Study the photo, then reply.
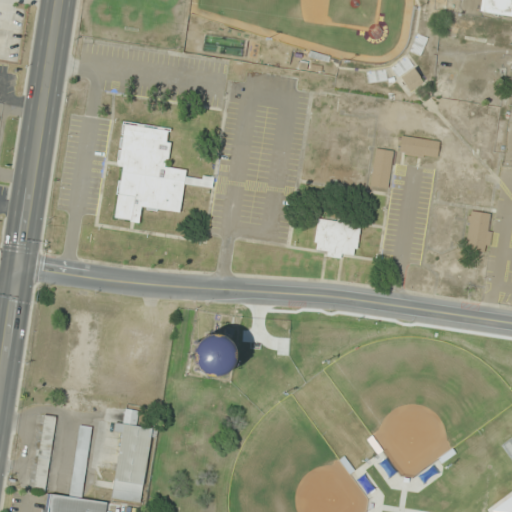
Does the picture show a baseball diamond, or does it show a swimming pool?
baseball diamond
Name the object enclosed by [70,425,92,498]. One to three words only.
shed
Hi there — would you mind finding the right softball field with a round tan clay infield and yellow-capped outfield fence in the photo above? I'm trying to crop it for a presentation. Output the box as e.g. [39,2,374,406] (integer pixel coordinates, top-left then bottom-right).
[324,337,512,478]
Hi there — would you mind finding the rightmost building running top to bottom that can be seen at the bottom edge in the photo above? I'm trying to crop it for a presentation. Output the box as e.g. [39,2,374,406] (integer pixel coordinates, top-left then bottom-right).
[112,410,152,504]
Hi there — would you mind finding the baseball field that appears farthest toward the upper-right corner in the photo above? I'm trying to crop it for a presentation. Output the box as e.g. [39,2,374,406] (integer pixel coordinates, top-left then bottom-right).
[190,0,415,62]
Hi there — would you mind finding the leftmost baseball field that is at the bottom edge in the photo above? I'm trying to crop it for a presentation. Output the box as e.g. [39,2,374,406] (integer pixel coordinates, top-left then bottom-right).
[229,394,368,512]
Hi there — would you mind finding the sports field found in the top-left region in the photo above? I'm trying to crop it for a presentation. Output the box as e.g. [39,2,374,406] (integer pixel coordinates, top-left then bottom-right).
[90,0,178,30]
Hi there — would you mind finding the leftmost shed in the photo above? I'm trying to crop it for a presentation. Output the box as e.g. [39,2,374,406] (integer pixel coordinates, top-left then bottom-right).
[36,415,56,490]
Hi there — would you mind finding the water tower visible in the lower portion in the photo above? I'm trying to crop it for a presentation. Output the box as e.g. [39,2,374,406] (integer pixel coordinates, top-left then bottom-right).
[192,328,242,382]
